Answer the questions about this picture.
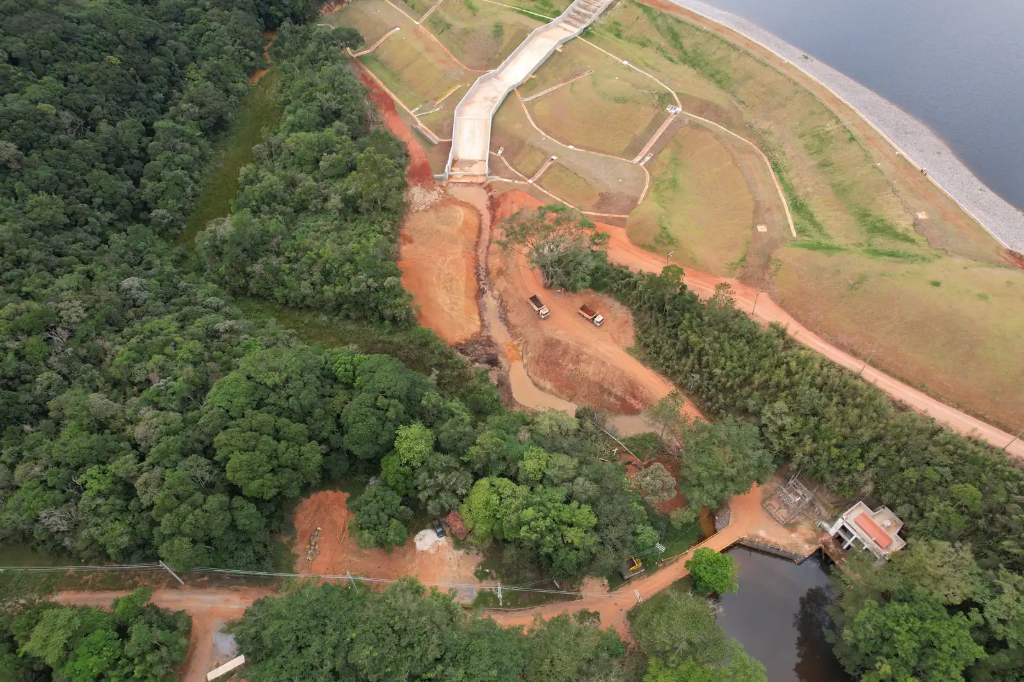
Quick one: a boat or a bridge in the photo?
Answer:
bridge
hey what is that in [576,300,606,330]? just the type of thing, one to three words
truck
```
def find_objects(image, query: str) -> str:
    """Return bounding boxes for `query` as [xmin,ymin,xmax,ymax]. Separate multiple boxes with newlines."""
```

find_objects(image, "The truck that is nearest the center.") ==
[528,291,552,322]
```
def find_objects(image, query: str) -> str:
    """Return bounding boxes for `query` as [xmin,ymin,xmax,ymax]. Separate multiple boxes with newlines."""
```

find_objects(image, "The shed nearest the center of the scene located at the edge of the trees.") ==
[441,511,474,549]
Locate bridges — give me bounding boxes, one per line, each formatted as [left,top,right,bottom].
[684,522,742,556]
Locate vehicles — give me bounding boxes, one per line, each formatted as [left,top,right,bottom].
[528,291,552,322]
[615,561,648,585]
[576,300,606,330]
[432,516,448,542]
